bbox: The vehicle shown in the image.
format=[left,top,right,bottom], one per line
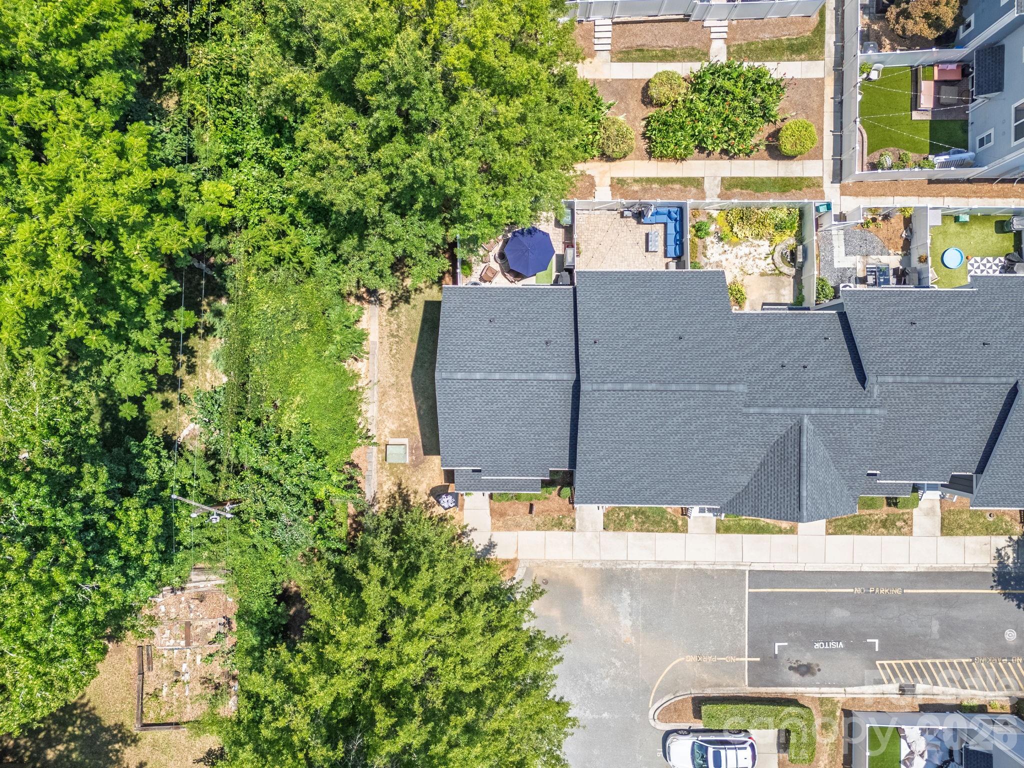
[665,730,757,768]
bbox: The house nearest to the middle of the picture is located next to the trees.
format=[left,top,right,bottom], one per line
[435,284,579,493]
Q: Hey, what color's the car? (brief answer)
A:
white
